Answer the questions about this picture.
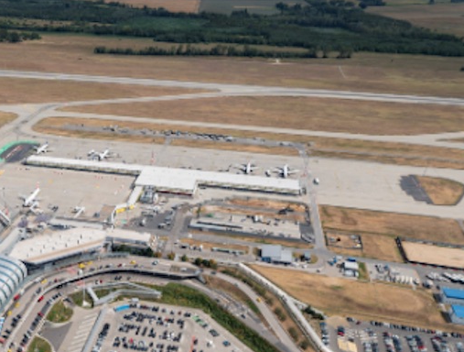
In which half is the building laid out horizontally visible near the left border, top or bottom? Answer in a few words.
bottom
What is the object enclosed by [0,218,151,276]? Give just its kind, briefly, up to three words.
building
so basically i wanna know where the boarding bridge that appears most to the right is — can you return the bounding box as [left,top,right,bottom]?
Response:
[29,201,42,214]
